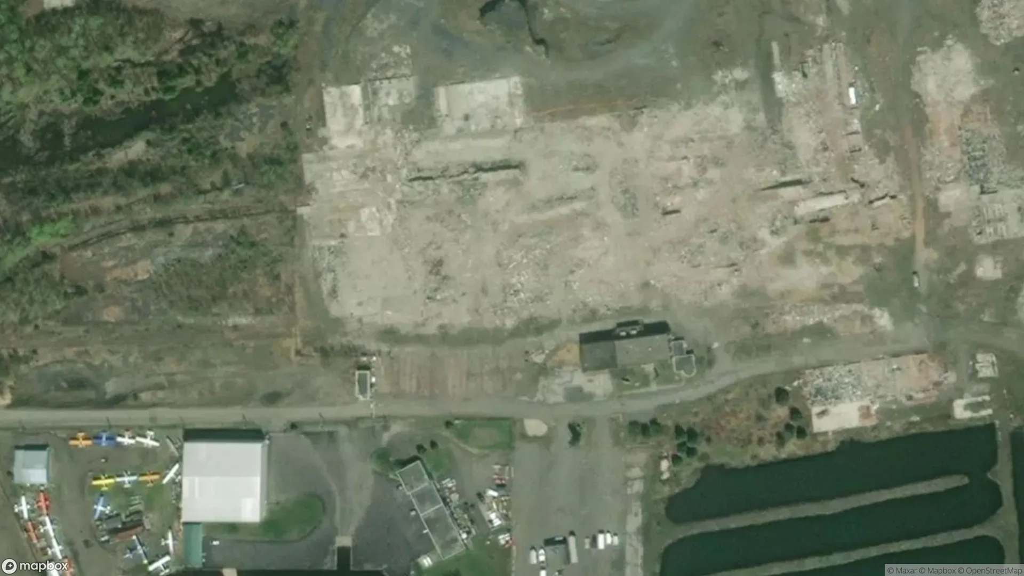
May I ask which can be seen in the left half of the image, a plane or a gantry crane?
plane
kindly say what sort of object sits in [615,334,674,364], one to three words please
building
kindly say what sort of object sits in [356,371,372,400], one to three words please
building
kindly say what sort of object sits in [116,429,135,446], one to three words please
airplane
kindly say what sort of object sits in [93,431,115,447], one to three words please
airplane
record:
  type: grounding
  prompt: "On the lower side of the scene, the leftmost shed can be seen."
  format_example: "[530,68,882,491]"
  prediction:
[14,450,50,483]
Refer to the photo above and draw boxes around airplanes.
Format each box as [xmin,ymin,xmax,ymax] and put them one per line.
[138,471,160,487]
[15,496,33,518]
[93,431,115,447]
[129,535,148,563]
[92,475,115,491]
[33,492,52,514]
[116,473,137,488]
[162,463,180,484]
[40,516,57,537]
[58,558,76,576]
[116,429,135,446]
[135,431,160,447]
[69,433,92,449]
[94,497,109,518]
[166,438,182,458]
[47,538,65,558]
[148,556,170,575]
[43,560,59,576]
[161,530,179,553]
[23,522,40,542]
